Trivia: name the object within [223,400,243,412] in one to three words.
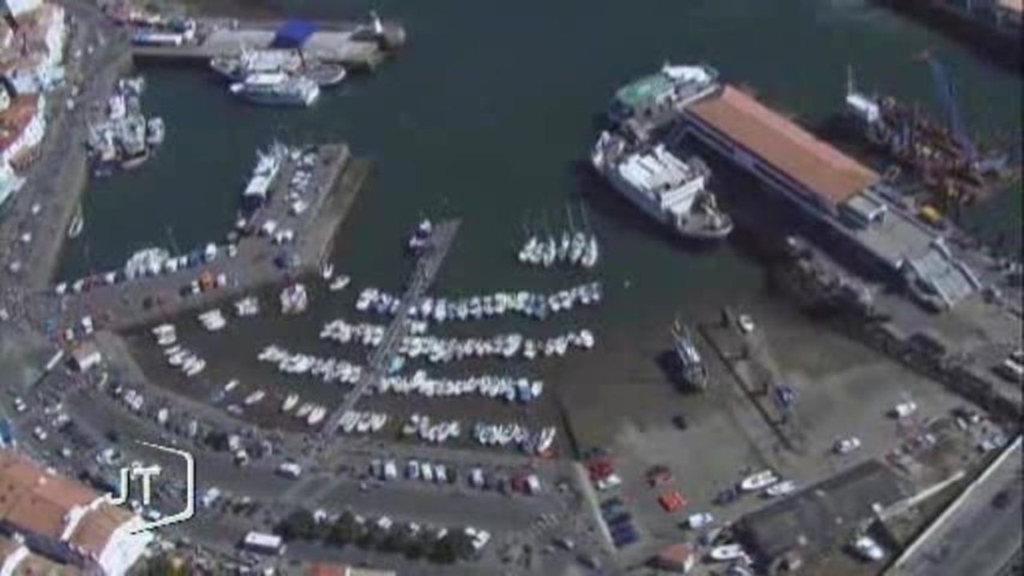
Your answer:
boat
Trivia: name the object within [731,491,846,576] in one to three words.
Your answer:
shed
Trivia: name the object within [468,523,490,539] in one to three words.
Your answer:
vehicle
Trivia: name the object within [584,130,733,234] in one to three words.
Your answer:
ship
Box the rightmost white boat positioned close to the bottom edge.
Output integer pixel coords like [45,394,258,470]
[850,533,886,557]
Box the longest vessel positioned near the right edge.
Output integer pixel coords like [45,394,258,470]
[845,65,1008,206]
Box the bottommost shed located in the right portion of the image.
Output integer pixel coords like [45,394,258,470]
[657,542,695,576]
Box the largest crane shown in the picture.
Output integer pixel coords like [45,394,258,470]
[921,52,985,173]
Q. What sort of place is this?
port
